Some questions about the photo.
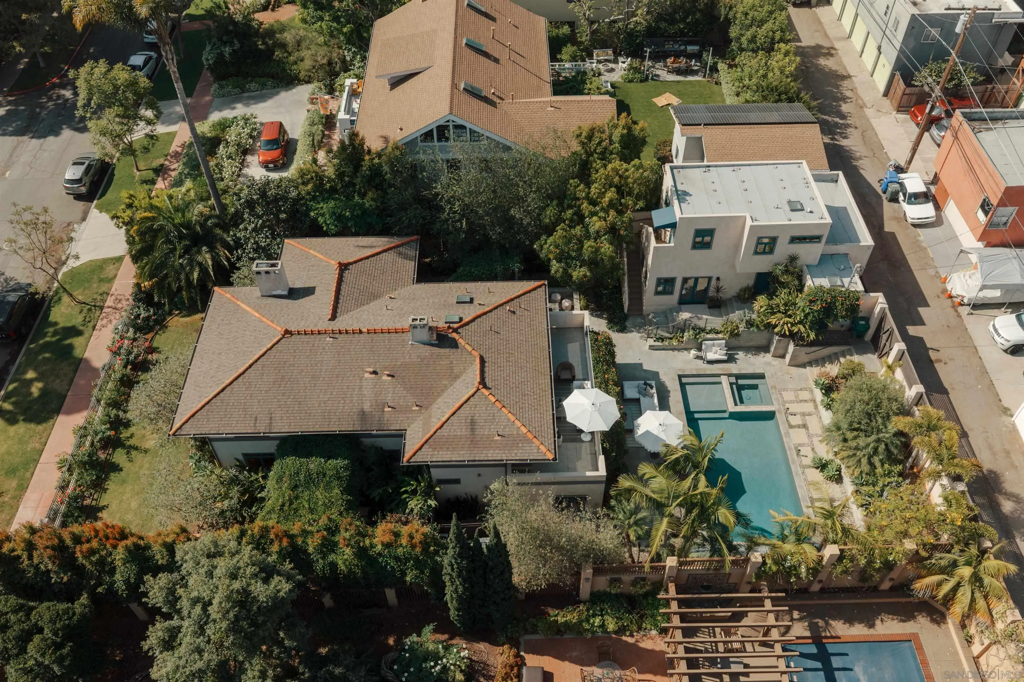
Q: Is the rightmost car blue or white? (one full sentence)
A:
The color of the rightmost car is white.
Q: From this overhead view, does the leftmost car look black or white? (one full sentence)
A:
The color of the leftmost car is black.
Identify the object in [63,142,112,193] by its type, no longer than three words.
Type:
car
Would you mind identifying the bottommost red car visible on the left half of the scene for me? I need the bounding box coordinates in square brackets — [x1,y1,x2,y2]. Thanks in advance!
[255,115,294,167]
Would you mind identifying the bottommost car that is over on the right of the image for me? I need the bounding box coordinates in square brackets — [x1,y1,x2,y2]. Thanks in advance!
[993,304,1024,351]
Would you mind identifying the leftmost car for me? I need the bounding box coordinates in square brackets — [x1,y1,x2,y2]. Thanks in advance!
[0,272,47,338]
